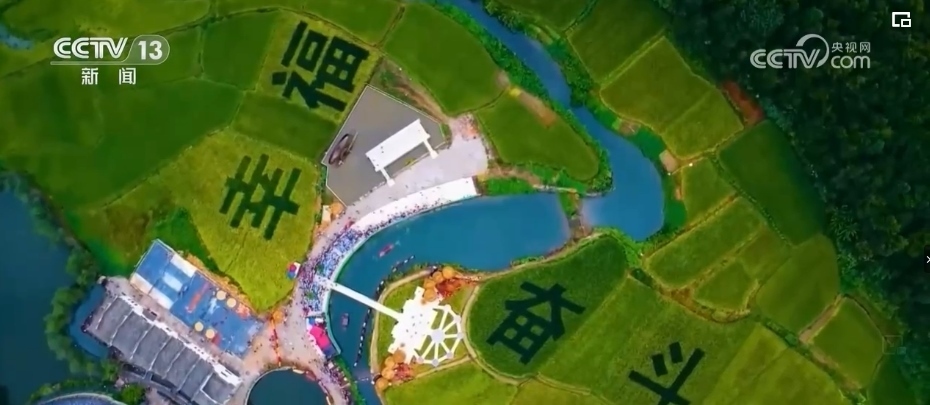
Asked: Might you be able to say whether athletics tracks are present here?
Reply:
No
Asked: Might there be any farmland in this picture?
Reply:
Yes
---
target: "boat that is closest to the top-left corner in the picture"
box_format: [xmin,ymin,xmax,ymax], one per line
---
[323,129,354,169]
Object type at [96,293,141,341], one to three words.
house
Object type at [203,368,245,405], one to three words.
house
